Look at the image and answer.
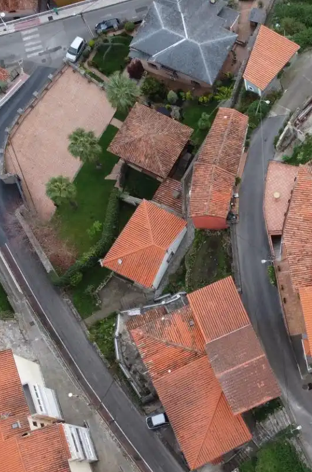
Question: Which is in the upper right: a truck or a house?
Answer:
house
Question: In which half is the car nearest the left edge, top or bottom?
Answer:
top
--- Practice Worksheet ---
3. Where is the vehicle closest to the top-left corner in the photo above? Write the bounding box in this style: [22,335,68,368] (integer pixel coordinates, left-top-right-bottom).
[63,36,86,64]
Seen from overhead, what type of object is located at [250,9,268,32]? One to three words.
shed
